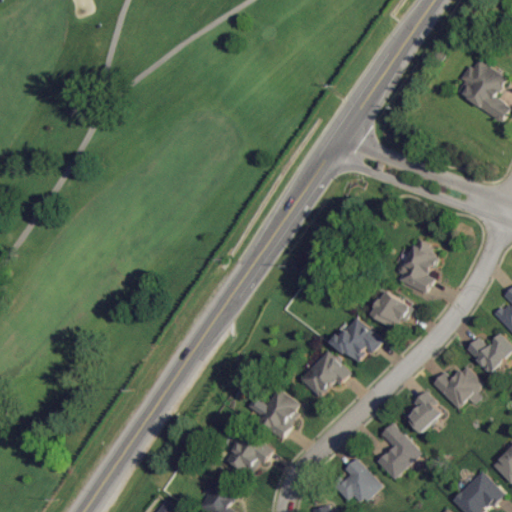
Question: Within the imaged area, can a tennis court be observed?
No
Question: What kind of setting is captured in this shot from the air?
golf course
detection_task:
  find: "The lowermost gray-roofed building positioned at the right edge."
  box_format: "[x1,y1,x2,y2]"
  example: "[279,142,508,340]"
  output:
[452,472,508,512]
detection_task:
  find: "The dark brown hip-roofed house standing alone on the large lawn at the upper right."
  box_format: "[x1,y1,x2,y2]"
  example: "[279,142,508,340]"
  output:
[458,63,512,122]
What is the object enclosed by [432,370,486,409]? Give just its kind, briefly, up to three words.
house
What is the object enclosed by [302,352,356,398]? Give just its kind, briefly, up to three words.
house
